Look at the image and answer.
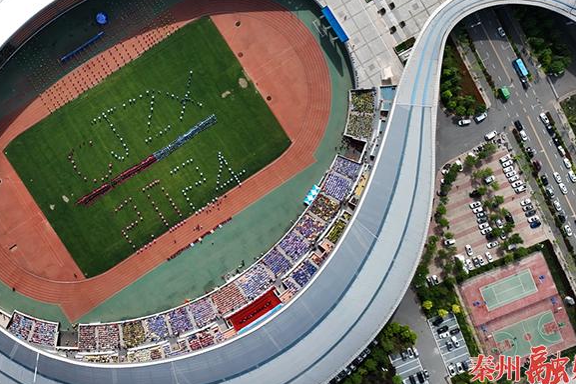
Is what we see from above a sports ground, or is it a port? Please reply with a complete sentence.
This image shows a sports ground.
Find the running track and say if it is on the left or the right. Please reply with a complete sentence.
The running track sits on the left side.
